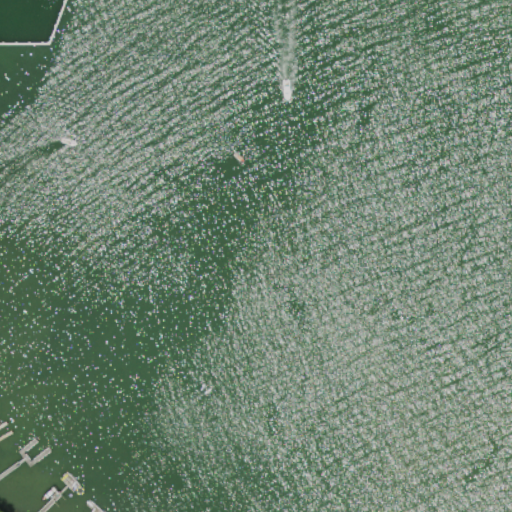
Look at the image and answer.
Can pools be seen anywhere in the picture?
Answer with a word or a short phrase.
No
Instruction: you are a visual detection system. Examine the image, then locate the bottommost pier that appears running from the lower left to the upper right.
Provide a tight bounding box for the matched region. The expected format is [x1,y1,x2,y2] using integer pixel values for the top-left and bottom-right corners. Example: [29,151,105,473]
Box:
[34,471,84,512]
